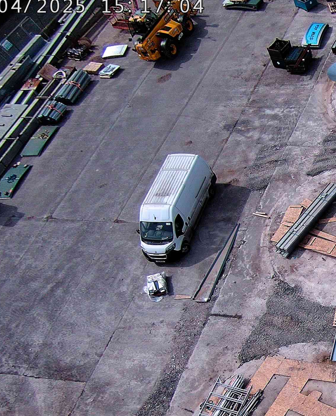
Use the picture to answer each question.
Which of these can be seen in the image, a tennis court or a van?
van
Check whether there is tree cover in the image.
No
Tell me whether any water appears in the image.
No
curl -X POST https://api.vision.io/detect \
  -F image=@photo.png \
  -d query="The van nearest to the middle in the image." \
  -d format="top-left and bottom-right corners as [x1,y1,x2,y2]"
[140,152,218,264]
